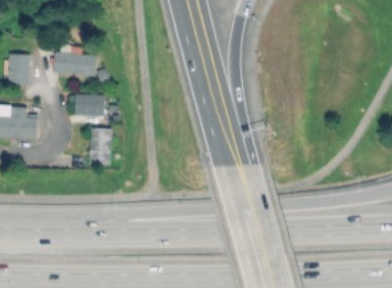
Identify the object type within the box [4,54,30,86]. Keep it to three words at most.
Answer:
house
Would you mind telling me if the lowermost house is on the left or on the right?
left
